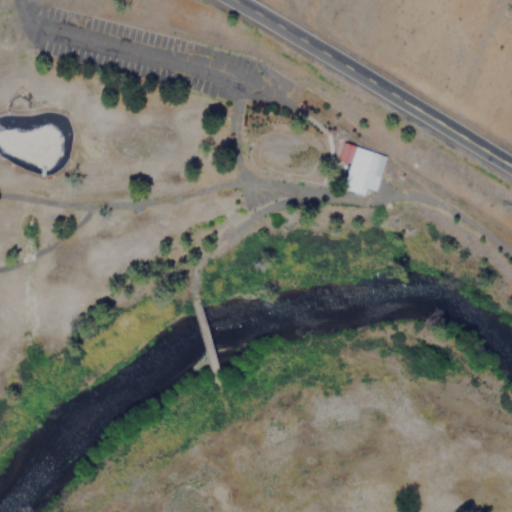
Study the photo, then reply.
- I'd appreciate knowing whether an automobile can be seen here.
No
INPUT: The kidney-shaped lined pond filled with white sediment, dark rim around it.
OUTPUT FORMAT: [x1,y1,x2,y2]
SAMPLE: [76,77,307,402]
[0,112,73,175]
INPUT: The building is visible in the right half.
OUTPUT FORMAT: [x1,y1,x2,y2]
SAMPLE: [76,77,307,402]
[340,142,388,195]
